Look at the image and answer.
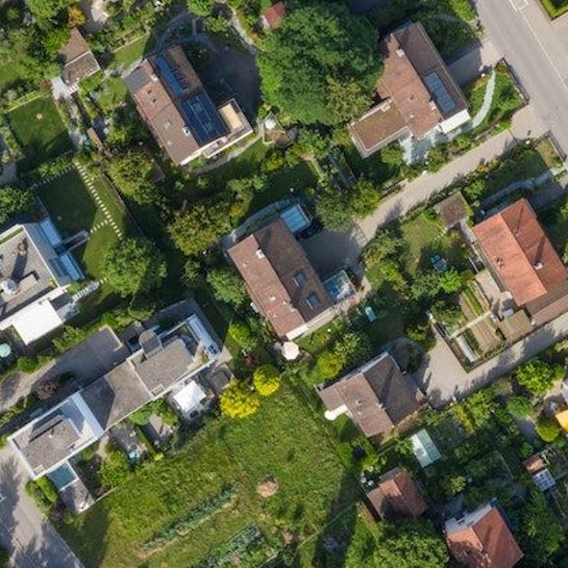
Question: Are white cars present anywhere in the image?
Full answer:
No, I can see no white car in this picture.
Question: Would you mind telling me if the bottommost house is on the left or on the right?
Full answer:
You can find the bottommost house on the right side of the picture.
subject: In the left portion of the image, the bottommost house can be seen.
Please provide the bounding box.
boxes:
[7,314,237,479]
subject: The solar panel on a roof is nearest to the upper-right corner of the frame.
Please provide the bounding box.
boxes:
[427,72,456,110]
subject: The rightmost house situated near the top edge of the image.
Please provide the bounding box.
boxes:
[347,23,471,160]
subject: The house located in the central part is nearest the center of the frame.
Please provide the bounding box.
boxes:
[227,204,356,340]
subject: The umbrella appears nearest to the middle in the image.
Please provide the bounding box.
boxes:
[281,341,299,360]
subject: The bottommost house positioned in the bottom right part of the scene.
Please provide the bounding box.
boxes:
[446,503,529,568]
